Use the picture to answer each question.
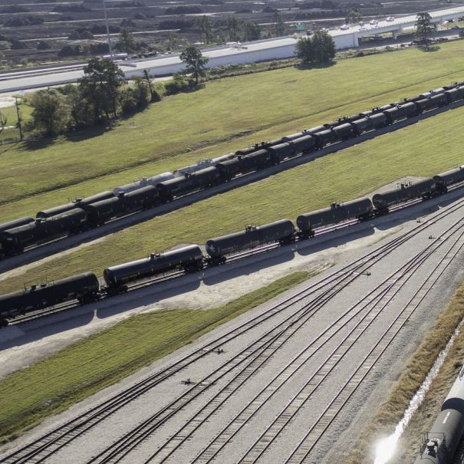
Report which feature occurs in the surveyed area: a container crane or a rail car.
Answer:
rail car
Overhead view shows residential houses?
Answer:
No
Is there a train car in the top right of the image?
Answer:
Yes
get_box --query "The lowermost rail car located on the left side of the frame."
[0,265,104,319]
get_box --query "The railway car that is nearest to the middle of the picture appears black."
[204,213,299,259]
